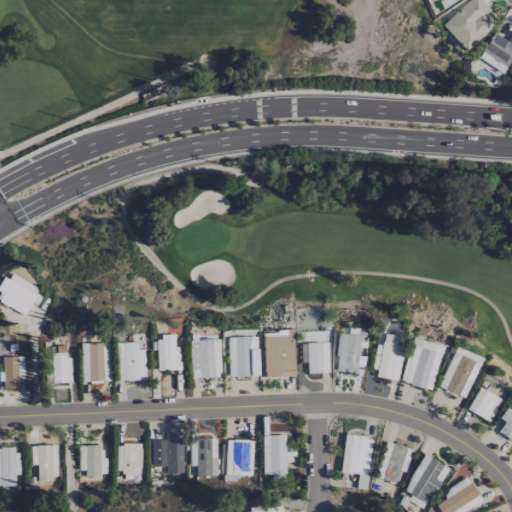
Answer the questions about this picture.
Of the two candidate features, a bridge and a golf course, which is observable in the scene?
golf course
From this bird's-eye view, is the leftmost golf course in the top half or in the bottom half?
top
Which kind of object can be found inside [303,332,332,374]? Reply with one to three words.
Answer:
house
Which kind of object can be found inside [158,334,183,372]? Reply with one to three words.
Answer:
house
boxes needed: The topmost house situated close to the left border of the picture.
[0,275,40,314]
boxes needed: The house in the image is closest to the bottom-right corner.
[430,477,484,512]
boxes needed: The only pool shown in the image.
[478,69,497,84]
